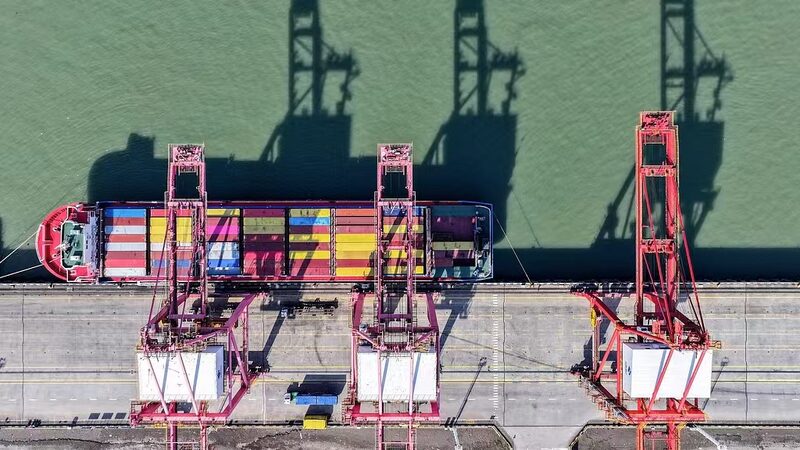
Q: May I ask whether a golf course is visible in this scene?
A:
No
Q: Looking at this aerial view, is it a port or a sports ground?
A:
port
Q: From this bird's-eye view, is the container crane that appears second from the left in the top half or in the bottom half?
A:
bottom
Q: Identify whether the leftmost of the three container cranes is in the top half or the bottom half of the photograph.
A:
bottom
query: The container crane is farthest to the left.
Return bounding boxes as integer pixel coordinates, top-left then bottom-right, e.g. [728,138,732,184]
[126,144,268,450]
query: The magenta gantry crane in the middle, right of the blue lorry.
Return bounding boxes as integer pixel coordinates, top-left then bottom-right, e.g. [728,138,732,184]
[344,142,443,450]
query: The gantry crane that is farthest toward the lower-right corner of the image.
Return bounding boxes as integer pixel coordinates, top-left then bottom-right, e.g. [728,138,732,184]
[570,109,725,450]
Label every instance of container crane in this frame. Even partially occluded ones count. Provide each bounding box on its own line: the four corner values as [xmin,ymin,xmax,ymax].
[570,109,725,450]
[344,142,443,450]
[126,144,268,450]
